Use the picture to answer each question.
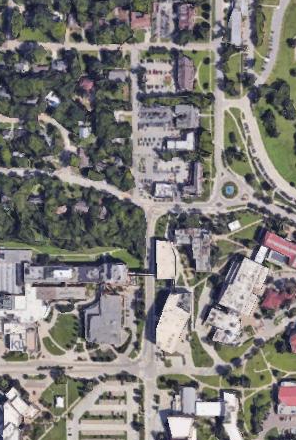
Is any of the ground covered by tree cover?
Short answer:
Yes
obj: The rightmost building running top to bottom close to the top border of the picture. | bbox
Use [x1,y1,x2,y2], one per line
[231,0,248,46]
